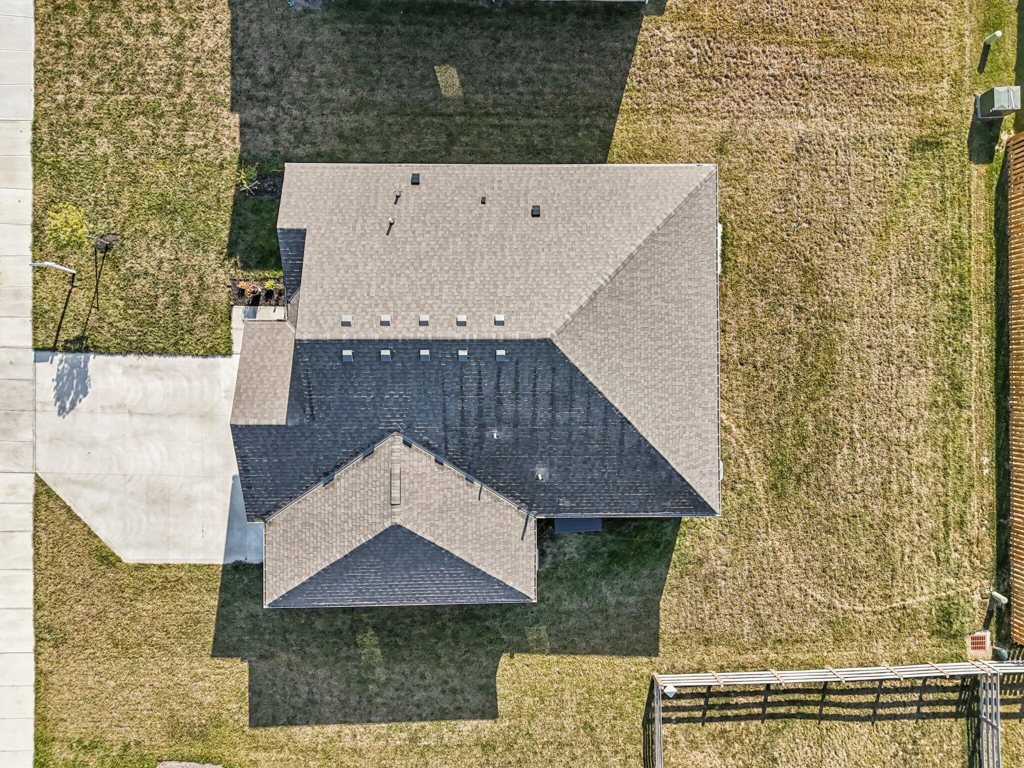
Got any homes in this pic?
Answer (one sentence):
Yes, a home can be made out from above.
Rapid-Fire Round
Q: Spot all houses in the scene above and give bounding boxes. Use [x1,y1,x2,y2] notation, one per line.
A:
[492,0,651,10]
[229,161,721,607]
